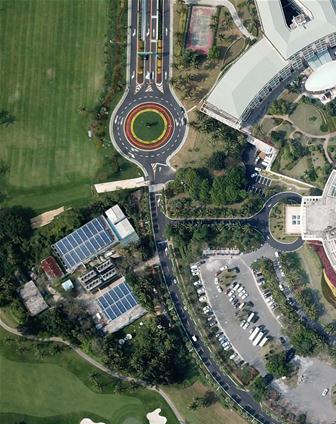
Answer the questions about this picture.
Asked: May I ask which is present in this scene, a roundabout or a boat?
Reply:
roundabout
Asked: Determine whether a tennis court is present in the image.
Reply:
Yes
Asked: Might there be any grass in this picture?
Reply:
Yes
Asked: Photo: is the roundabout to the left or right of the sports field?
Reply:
right of it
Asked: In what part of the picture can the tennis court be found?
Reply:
top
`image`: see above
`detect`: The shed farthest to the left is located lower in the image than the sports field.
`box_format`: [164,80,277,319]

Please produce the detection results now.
[20,281,53,314]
